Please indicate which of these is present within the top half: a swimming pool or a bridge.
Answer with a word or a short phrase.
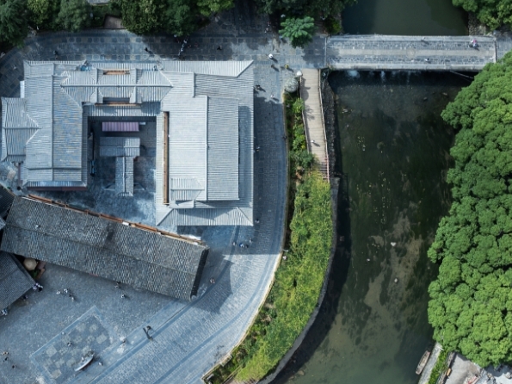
bridge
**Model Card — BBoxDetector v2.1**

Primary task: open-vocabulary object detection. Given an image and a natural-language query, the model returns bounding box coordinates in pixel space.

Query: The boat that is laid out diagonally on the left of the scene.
[73,355,95,373]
